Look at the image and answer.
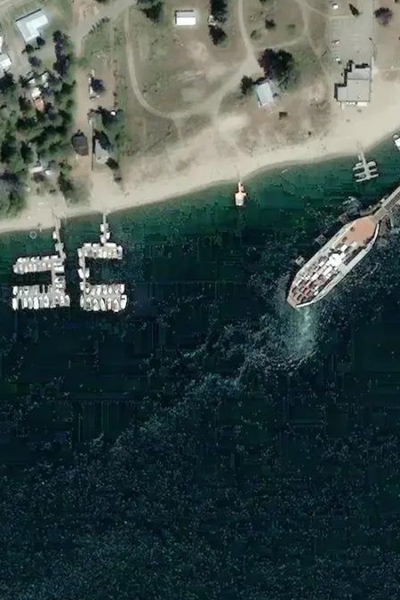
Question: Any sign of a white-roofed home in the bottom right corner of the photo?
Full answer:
No, I can find no white-roofed home in the bottom right corner of the photo.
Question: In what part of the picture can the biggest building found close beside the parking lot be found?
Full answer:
The biggest building found close beside the parking lot appears toward the top right of the photo.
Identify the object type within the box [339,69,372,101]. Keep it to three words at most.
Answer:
building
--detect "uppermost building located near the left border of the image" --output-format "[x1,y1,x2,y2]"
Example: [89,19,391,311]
[18,11,44,41]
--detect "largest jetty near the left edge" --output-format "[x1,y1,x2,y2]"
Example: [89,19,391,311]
[11,218,67,308]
